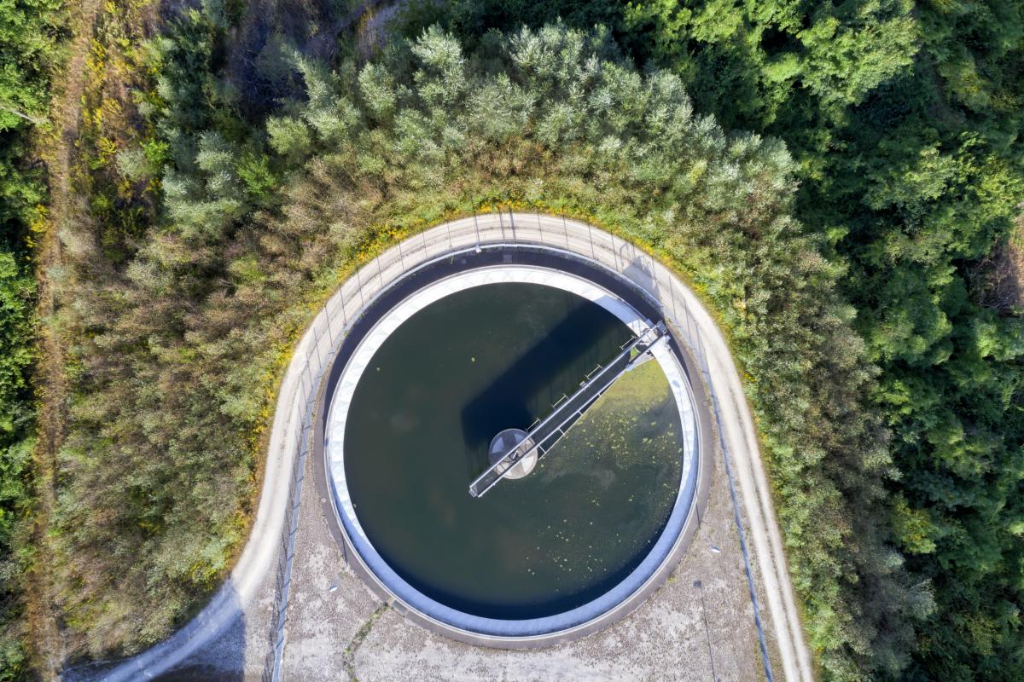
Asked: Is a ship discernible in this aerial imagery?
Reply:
No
